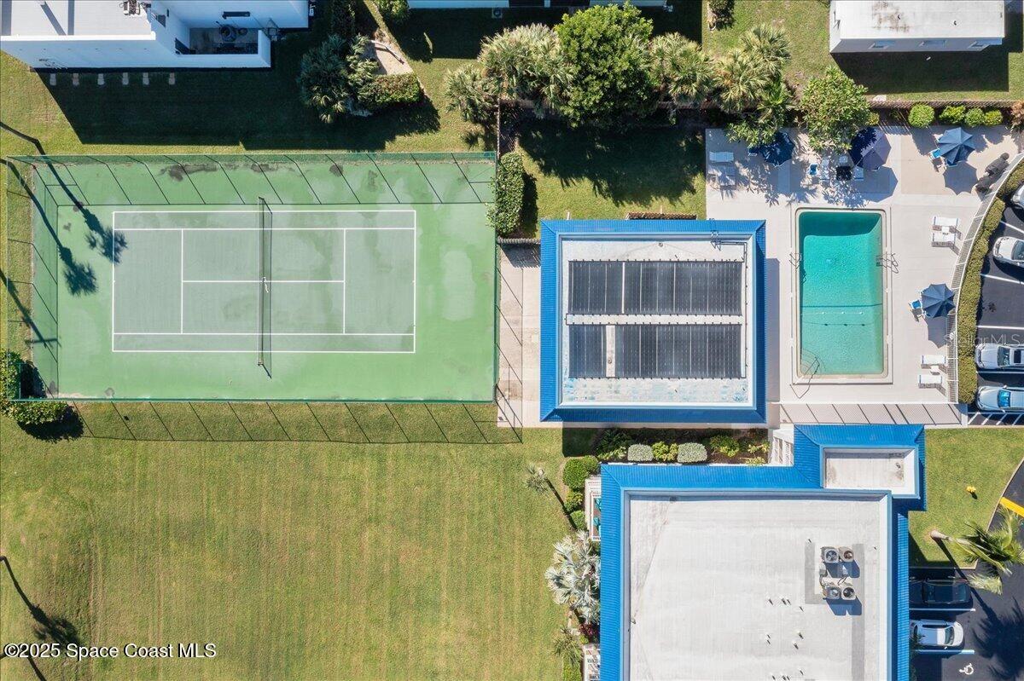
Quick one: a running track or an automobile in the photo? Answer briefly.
automobile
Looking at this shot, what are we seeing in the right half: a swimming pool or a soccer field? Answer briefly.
swimming pool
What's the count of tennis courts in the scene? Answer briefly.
1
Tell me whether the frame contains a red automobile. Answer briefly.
No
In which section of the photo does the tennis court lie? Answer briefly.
left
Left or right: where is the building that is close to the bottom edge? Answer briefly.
right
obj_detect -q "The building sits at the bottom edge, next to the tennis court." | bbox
[585,423,927,681]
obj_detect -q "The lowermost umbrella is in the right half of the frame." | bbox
[917,284,951,317]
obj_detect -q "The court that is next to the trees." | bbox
[32,160,496,401]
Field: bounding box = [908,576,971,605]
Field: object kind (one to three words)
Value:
car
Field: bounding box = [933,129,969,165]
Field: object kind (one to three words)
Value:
umbrella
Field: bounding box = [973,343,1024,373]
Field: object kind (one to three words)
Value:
car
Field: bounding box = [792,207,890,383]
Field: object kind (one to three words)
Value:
swimming pool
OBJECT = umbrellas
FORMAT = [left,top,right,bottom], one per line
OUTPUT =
[917,284,951,317]
[753,129,795,171]
[933,129,969,165]
[845,127,892,173]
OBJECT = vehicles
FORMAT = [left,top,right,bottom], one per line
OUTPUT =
[973,343,1024,373]
[908,576,971,605]
[974,385,1024,414]
[908,620,962,650]
[990,236,1024,266]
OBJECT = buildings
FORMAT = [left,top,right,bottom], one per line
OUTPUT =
[413,0,667,8]
[540,219,767,425]
[830,0,1024,52]
[585,423,927,681]
[0,0,308,67]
